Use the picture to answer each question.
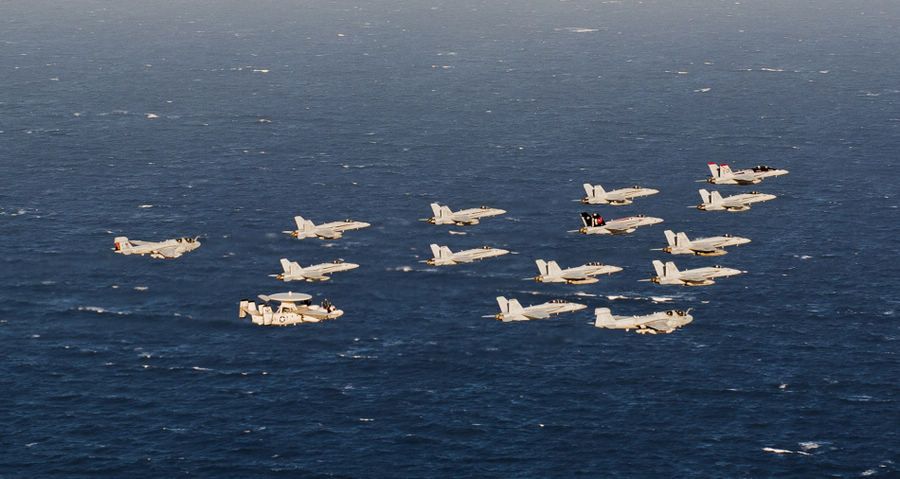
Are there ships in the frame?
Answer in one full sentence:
No, the picture doesn't show any ship.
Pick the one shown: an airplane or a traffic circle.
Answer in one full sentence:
Visible in the photo is an airplane.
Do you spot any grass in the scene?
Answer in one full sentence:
No, the picture contains no grass.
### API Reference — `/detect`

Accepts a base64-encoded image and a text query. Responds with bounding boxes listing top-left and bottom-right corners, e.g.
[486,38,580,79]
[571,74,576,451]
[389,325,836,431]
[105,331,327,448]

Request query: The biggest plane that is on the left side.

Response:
[241,291,344,326]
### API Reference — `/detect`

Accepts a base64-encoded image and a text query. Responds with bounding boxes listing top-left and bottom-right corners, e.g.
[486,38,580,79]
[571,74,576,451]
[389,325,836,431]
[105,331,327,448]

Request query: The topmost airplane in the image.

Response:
[696,162,789,185]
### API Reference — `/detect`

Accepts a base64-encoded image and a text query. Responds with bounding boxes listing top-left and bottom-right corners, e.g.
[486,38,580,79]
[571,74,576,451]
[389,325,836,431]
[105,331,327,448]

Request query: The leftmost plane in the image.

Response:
[110,234,200,258]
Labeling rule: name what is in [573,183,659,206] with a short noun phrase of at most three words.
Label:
airplane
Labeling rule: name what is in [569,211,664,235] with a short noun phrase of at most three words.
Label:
airplane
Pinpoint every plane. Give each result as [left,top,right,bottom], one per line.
[569,211,664,235]
[283,216,370,238]
[526,258,623,285]
[241,291,344,326]
[418,204,506,226]
[418,243,509,265]
[587,306,693,336]
[487,296,587,320]
[641,259,741,287]
[696,162,789,185]
[269,259,359,281]
[110,234,200,258]
[689,188,775,212]
[573,183,659,206]
[655,229,751,255]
